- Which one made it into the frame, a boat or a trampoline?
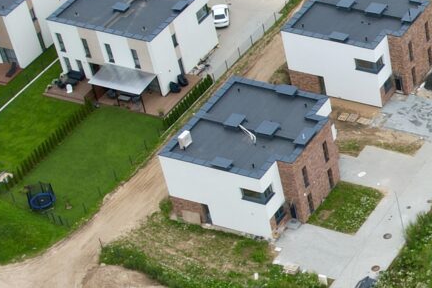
trampoline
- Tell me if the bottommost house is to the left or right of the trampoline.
right of it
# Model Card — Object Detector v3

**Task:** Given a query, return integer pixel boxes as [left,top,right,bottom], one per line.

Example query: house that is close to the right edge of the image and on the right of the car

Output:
[282,0,432,107]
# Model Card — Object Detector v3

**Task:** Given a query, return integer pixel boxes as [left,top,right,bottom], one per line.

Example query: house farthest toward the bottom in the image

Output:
[158,77,339,240]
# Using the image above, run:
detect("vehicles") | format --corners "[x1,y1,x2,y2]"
[211,6,230,31]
